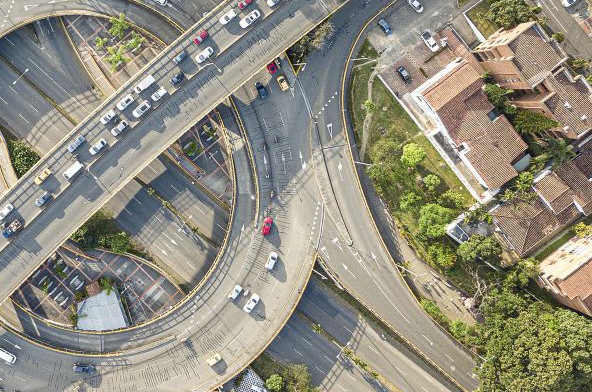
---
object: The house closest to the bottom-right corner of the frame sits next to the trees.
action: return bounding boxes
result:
[526,244,592,319]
